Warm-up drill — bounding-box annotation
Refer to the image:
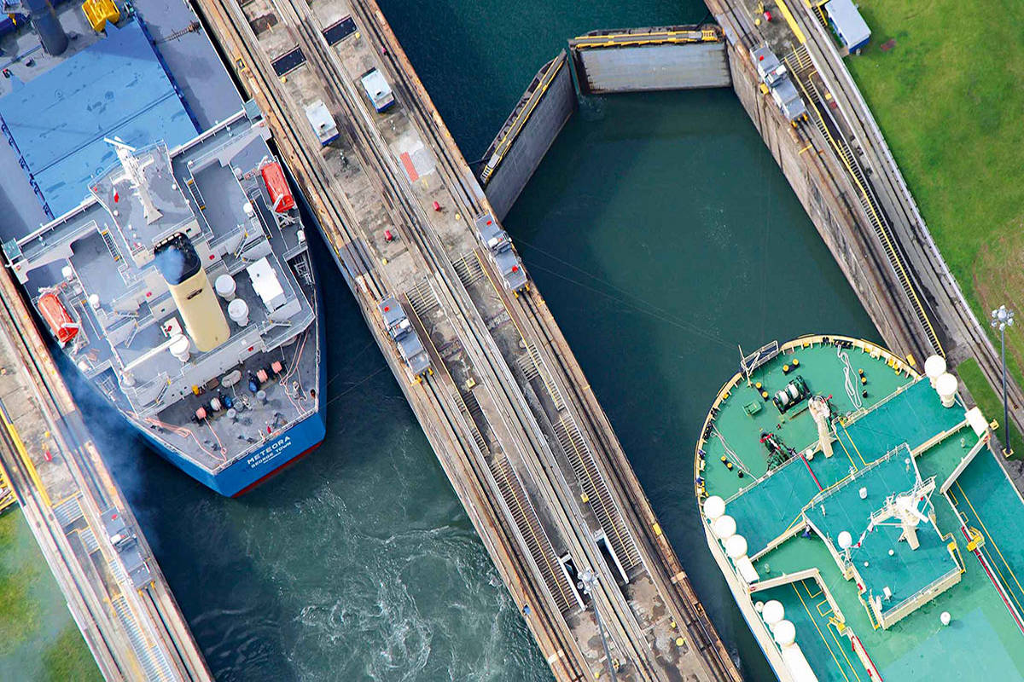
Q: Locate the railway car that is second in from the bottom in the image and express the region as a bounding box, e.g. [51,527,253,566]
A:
[378,297,436,385]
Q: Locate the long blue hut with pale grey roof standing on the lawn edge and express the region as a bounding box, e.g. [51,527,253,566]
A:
[817,0,872,64]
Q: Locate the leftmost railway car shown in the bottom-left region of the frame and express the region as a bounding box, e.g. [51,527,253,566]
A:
[100,506,157,597]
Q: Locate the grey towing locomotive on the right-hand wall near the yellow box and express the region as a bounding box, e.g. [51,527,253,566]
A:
[752,44,811,130]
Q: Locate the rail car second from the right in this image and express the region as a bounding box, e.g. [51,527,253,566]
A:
[474,214,533,301]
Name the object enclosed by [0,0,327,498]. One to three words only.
ship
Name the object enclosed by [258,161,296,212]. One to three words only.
boat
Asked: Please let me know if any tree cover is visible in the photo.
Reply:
No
